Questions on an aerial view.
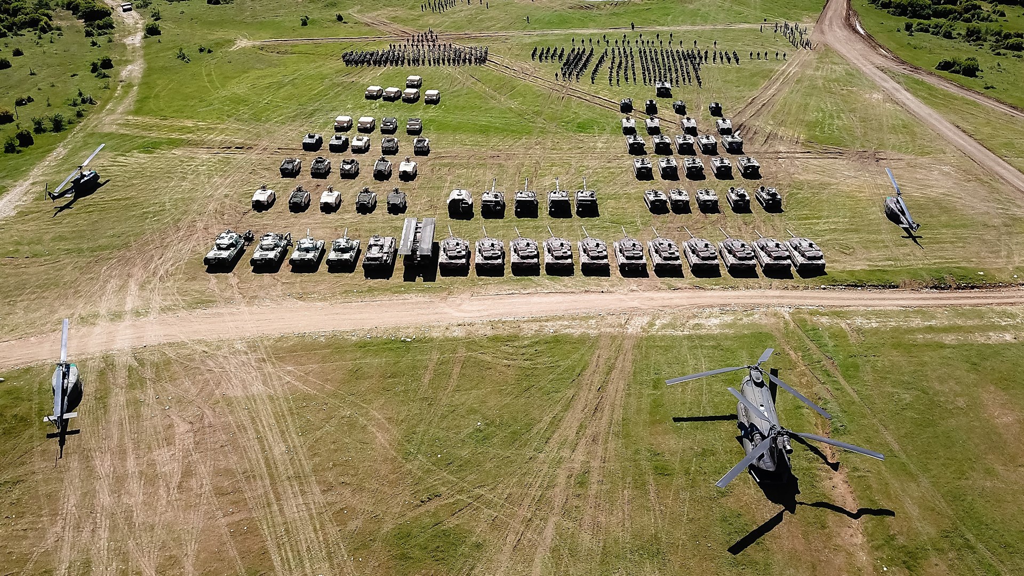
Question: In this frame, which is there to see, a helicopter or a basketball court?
helicopter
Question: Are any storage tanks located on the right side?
No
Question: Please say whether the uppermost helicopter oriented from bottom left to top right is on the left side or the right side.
left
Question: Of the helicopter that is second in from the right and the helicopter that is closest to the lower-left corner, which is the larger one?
the helicopter that is second in from the right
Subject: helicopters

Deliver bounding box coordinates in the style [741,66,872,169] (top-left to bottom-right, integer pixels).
[44,148,107,206]
[878,170,920,235]
[668,342,883,492]
[42,321,87,435]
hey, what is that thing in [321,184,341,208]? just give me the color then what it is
white car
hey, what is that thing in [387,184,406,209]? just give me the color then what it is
gray car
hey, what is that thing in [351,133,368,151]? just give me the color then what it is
white car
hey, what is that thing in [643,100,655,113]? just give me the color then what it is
black vehicle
